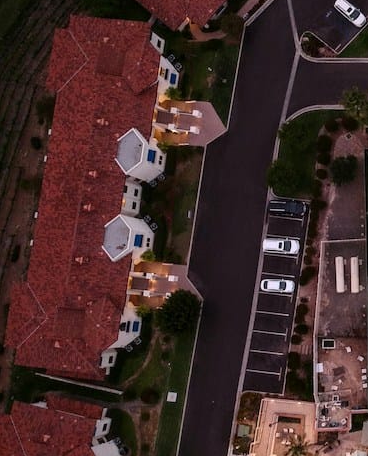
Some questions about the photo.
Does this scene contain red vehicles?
No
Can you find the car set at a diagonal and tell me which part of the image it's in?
top right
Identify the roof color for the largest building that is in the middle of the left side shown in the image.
red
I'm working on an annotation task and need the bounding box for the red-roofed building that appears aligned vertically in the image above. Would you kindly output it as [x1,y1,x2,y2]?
[3,16,179,380]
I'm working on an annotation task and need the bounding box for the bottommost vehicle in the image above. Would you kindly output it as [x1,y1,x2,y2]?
[261,279,294,294]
